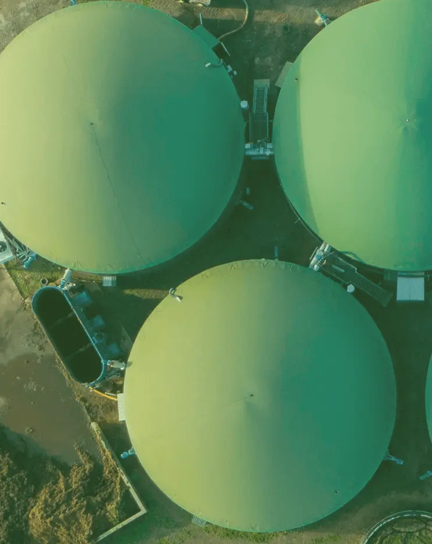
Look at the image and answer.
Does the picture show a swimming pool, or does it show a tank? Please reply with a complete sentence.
There is a tank in the scene.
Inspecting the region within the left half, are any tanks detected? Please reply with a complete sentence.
Yes, a tank is visible within the left half.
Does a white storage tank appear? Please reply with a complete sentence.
No, there appears to be no white storage tank in this shot.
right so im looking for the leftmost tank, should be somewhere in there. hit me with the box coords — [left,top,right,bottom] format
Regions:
[0,1,259,280]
